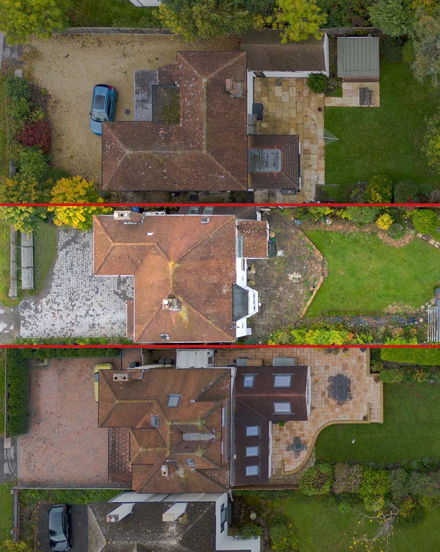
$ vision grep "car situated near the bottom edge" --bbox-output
[45,503,73,552]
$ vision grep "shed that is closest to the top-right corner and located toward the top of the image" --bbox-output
[338,37,380,82]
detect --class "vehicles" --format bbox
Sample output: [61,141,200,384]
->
[45,503,73,552]
[87,83,118,136]
[90,365,113,412]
